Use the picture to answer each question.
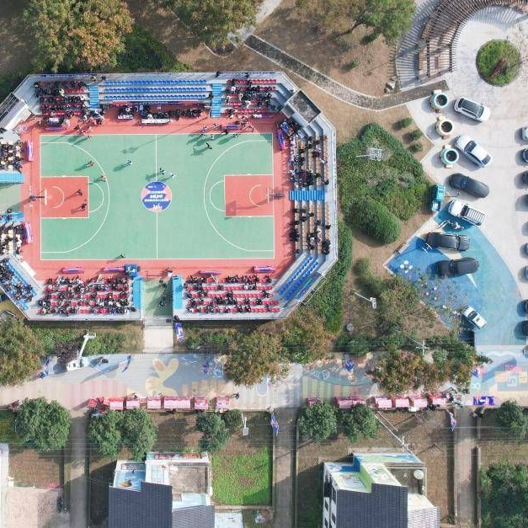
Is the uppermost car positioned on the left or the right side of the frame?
right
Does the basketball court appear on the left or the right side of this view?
left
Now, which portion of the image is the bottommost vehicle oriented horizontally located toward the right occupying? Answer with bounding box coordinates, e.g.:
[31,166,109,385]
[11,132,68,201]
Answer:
[437,256,480,278]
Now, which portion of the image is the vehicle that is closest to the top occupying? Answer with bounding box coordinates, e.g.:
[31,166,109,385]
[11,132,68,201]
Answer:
[452,94,493,125]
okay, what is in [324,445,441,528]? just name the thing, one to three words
house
